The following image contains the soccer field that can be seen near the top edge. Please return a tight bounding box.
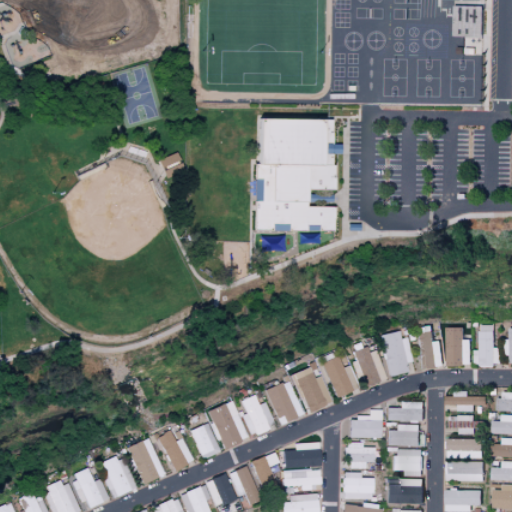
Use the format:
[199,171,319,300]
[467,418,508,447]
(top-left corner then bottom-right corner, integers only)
[200,0,326,92]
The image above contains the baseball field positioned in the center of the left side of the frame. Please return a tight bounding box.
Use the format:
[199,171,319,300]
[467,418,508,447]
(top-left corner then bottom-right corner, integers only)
[0,158,198,342]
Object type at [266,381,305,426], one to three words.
house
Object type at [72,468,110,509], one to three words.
house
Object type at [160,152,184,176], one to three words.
building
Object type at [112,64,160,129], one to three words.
basketball court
